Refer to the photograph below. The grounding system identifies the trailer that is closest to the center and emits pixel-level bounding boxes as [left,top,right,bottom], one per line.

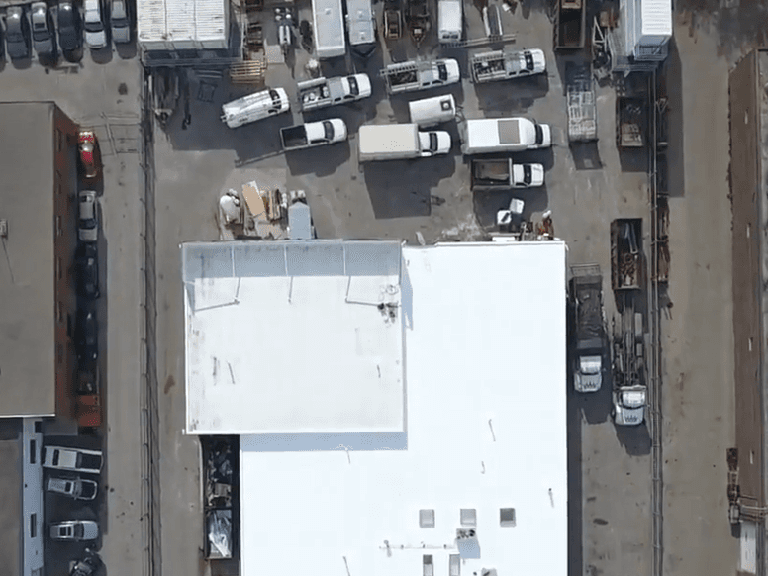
[287,199,315,240]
